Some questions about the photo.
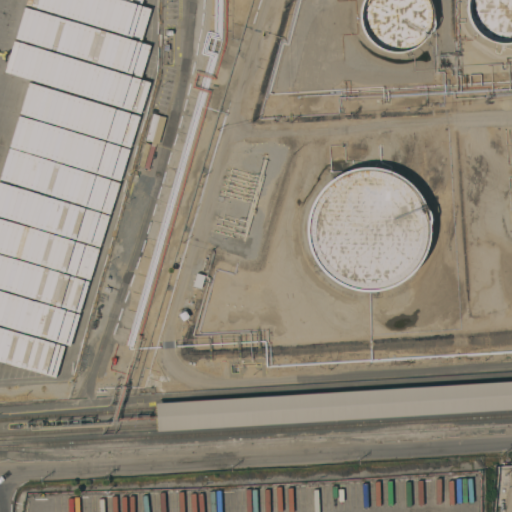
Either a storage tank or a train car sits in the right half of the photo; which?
storage tank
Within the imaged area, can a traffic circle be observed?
No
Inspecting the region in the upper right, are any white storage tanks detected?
Yes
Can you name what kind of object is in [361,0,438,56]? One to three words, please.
storage tank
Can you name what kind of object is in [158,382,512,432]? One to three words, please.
shed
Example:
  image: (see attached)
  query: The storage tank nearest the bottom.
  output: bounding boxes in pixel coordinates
[306,166,434,293]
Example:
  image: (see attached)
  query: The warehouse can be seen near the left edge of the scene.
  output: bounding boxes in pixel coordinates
[0,0,154,378]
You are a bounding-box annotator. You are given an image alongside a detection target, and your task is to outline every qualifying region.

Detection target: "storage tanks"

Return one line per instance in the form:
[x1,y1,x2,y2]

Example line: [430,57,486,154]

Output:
[466,0,512,47]
[361,0,438,56]
[306,166,434,293]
